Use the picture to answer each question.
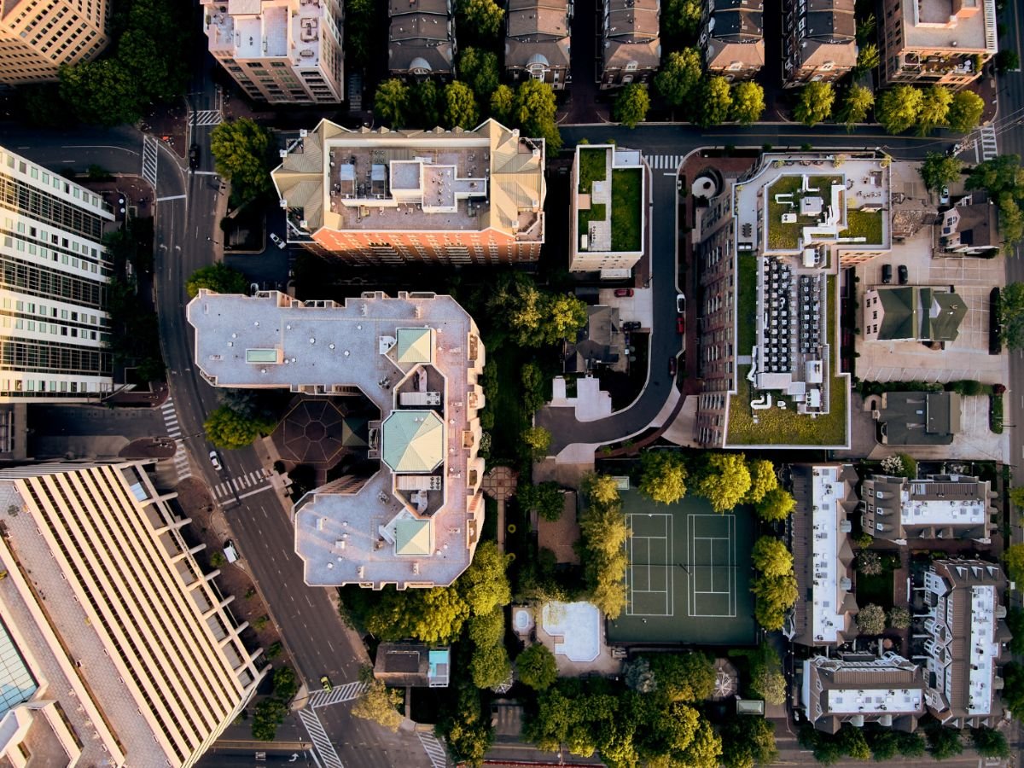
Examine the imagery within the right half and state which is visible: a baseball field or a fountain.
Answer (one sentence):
The feature located within the right half is a fountain.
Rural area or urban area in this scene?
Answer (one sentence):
From above, the setting appears urban.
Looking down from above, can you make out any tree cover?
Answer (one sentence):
Yes, some tree cover is visible.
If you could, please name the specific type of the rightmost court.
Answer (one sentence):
The rightmost court appears to be a tennis court.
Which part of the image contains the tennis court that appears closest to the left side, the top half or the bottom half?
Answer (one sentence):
The bottom half of the photo is where the tennis court that appears closest to the left side is.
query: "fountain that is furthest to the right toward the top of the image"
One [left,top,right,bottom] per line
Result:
[691,159,732,199]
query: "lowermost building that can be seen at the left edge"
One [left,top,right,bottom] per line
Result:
[0,442,285,768]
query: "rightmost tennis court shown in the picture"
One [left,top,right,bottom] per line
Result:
[680,478,757,645]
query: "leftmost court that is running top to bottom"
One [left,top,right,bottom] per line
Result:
[609,477,680,645]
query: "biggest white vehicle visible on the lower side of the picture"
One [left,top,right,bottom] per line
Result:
[219,539,238,566]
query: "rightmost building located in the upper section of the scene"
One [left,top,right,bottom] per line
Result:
[931,191,1000,257]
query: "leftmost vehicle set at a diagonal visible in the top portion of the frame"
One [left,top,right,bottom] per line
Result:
[269,231,286,250]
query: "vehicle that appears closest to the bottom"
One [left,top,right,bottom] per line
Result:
[319,674,332,695]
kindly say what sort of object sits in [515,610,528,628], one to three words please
swimming pool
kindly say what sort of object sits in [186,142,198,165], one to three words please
vehicle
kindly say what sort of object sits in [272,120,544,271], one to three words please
building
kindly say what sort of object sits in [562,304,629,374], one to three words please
house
